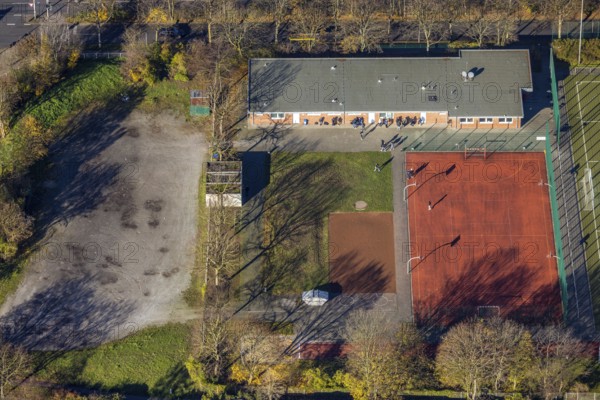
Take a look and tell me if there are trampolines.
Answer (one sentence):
No, no trampoline can be seen from above.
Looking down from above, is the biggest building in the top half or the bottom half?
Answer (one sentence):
The biggest building is in the top half of the image.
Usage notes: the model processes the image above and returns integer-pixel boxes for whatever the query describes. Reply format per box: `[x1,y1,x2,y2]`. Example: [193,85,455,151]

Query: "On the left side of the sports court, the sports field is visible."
[329,212,396,293]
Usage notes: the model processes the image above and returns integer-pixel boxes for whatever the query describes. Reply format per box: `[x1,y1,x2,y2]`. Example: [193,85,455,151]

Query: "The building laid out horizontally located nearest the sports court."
[247,49,534,130]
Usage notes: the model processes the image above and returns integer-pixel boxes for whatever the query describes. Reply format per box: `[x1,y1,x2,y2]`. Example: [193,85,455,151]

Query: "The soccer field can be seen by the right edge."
[565,79,600,363]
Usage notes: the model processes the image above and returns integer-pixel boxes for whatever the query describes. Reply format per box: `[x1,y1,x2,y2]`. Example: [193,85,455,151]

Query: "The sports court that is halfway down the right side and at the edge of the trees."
[406,151,565,330]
